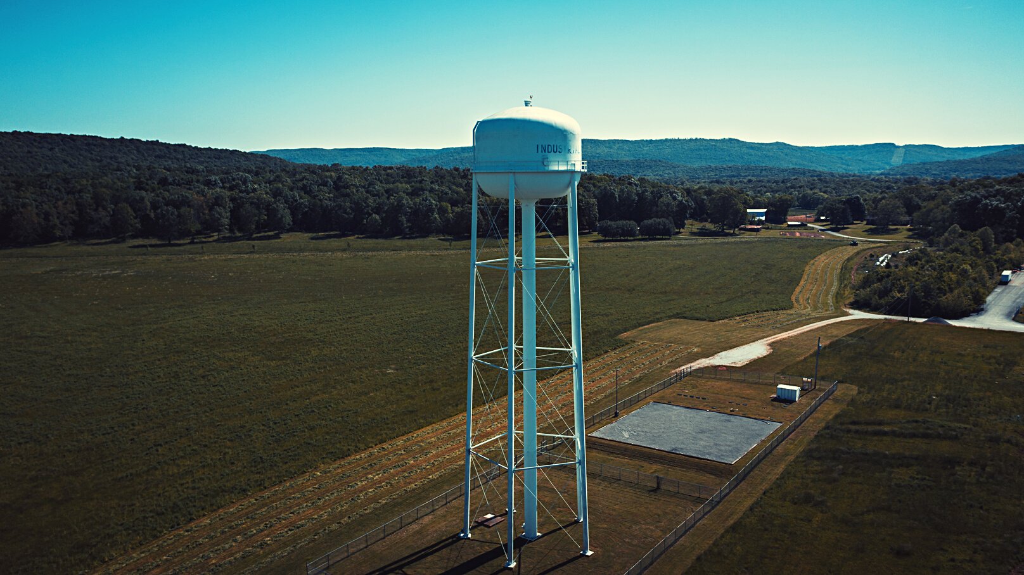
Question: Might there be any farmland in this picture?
Yes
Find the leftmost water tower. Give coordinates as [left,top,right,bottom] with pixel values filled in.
[462,93,590,571]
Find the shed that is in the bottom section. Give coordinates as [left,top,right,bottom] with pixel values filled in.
[776,383,803,402]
